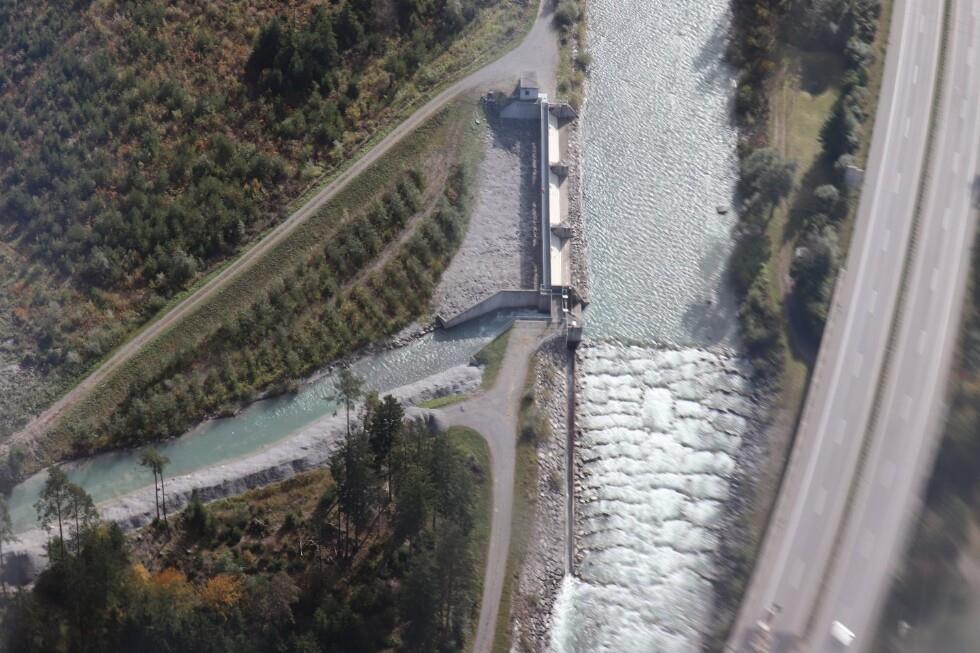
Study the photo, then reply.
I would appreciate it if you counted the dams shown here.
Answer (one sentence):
My tally gives 1 dam in this photo.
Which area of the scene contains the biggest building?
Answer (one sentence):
The biggest building is located in the top region of the scene.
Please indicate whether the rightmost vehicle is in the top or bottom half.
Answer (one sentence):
It is in the bottom half that the rightmost vehicle appears.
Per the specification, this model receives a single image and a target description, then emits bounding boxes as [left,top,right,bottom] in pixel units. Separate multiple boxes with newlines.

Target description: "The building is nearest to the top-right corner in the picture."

[519,76,539,101]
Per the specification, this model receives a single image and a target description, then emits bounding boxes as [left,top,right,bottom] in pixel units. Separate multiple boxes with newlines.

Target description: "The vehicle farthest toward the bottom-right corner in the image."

[834,621,855,653]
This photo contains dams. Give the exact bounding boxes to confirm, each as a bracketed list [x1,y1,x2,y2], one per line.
[503,90,578,293]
